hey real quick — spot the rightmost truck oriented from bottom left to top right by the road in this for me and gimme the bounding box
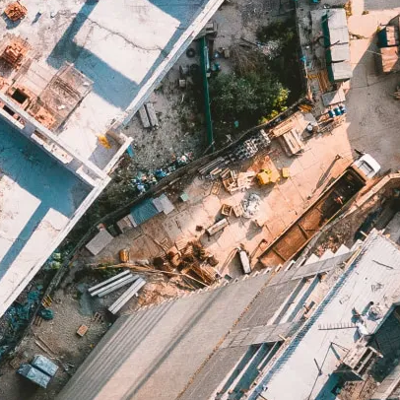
[267,136,400,254]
